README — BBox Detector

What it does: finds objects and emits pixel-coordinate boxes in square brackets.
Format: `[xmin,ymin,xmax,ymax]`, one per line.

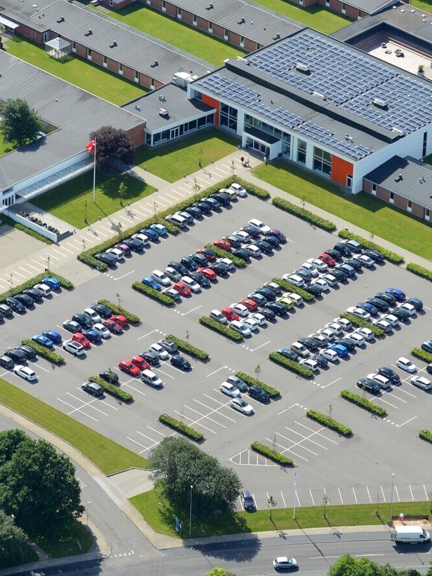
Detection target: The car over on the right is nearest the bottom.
[273,556,298,569]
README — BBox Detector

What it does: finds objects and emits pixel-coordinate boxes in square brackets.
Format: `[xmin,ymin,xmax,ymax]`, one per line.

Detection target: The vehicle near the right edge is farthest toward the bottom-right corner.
[389,526,431,545]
